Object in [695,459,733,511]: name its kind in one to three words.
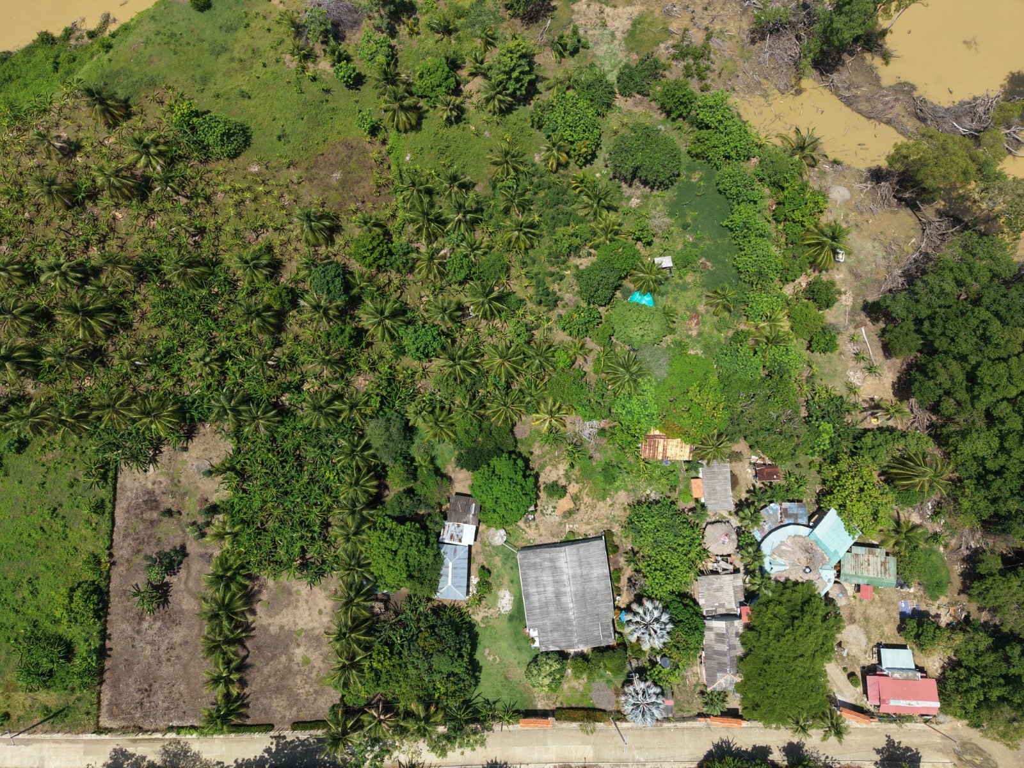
house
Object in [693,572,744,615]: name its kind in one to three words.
building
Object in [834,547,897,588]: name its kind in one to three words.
barn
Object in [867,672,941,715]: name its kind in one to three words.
house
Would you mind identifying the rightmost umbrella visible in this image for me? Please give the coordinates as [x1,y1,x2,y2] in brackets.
[827,583,852,607]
